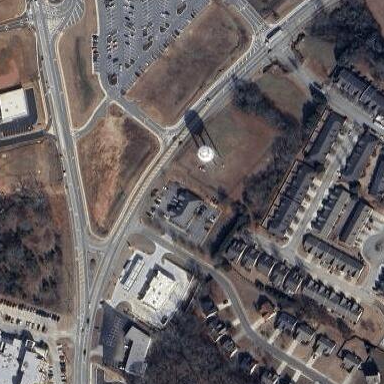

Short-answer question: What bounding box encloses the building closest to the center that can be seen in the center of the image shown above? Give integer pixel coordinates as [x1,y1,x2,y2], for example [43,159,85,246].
[172,195,207,228]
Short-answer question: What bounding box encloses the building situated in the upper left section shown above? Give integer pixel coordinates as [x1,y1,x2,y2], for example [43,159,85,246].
[0,88,28,120]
